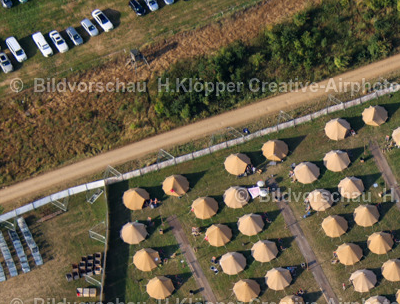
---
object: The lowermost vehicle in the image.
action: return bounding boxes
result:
[0,52,13,74]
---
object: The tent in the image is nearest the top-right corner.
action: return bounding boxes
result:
[361,104,391,126]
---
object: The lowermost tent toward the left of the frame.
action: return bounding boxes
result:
[145,276,174,299]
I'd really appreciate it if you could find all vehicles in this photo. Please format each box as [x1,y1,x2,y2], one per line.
[7,34,26,59]
[145,0,161,13]
[0,0,13,10]
[82,18,97,37]
[163,0,175,6]
[66,27,83,47]
[0,52,13,74]
[33,31,51,56]
[94,9,111,31]
[50,31,67,53]
[129,0,146,18]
